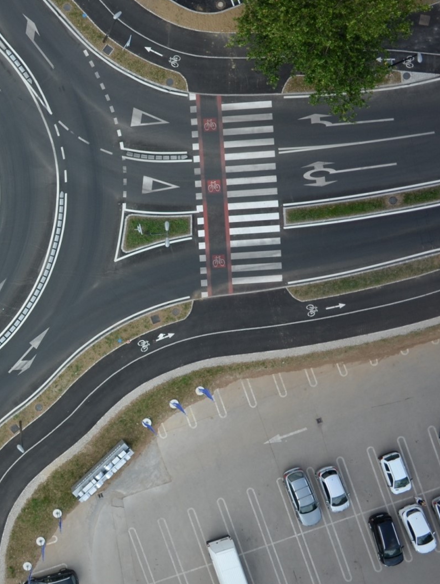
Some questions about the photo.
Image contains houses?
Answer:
No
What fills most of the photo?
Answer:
paved ground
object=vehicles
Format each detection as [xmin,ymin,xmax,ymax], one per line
[23,567,79,584]
[376,446,412,495]
[311,461,352,513]
[394,504,437,555]
[361,509,407,567]
[425,492,440,529]
[279,467,322,524]
[201,532,248,584]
